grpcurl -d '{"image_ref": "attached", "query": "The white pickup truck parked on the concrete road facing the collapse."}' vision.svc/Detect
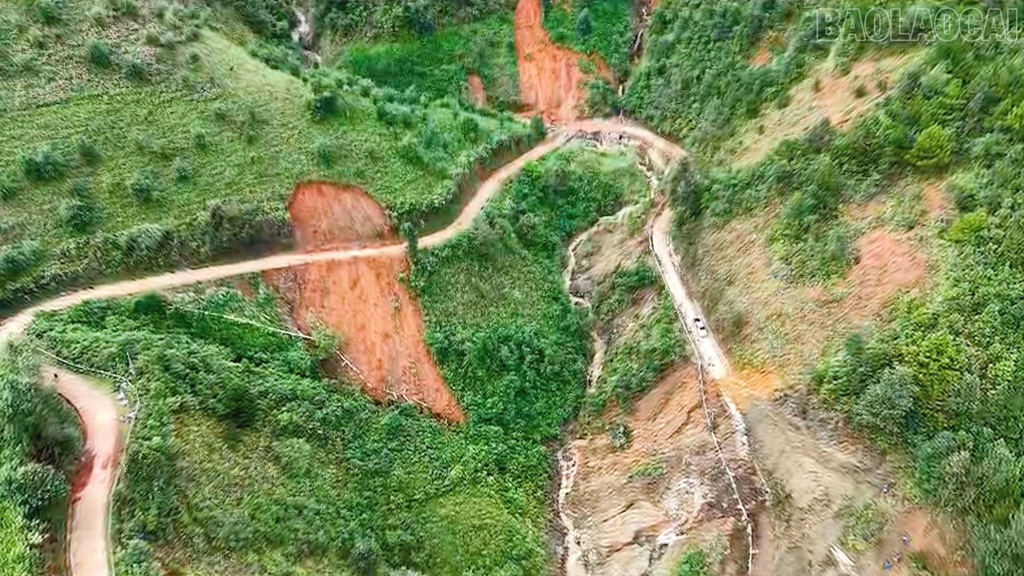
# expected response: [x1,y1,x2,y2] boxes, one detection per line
[693,313,709,333]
